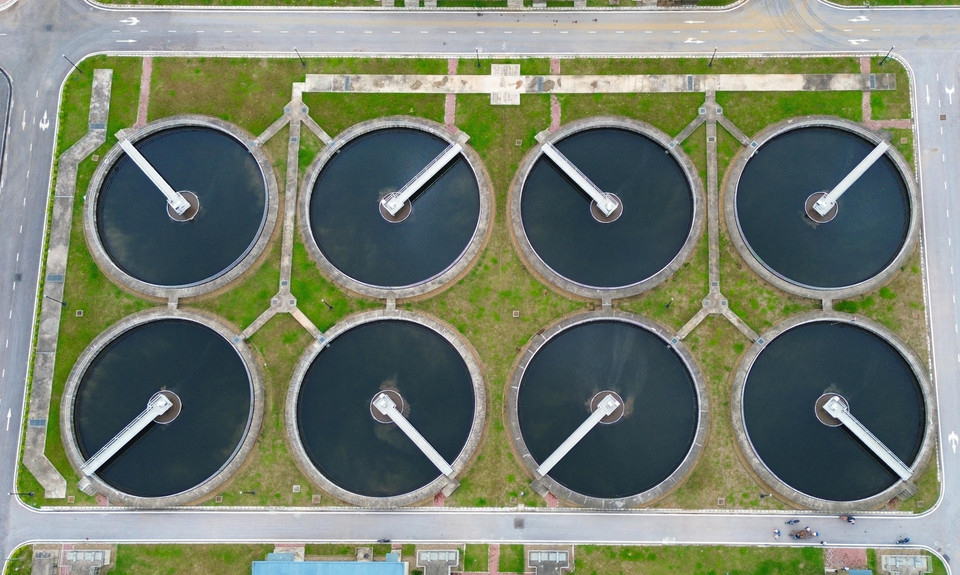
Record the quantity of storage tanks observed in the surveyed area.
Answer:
eight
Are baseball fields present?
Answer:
No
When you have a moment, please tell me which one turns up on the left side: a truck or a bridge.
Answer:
bridge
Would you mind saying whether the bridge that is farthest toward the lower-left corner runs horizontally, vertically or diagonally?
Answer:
diagonally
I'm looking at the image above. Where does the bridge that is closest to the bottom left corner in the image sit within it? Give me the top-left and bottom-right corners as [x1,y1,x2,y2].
[81,392,173,475]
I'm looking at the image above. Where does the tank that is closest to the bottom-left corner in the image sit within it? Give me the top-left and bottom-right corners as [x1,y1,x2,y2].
[62,309,265,507]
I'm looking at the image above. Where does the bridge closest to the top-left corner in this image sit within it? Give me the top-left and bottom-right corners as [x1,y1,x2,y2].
[114,136,190,215]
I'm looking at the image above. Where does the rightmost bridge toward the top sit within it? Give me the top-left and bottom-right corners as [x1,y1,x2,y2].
[813,138,894,216]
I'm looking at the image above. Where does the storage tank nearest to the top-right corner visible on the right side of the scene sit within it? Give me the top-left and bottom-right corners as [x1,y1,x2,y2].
[725,115,922,299]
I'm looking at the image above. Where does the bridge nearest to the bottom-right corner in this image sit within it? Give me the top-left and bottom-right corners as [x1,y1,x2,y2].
[823,395,916,480]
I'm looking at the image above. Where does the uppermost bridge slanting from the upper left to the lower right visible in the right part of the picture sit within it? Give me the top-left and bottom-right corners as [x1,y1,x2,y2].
[540,139,622,215]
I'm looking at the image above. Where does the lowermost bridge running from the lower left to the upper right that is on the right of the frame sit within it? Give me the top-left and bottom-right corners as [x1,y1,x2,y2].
[538,393,622,477]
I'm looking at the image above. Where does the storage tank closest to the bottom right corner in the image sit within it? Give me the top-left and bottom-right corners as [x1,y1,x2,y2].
[731,310,937,511]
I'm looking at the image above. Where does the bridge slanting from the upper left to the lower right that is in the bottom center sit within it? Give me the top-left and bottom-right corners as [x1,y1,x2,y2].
[371,393,454,477]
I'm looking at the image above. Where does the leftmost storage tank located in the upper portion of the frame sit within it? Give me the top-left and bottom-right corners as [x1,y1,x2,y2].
[84,115,279,299]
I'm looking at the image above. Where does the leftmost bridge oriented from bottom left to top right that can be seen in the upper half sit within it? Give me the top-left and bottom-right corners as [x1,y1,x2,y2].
[380,139,464,215]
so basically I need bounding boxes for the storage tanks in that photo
[297,115,491,300]
[513,117,703,298]
[725,115,922,299]
[286,310,486,507]
[84,115,279,299]
[506,310,708,507]
[731,310,937,511]
[62,309,265,507]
